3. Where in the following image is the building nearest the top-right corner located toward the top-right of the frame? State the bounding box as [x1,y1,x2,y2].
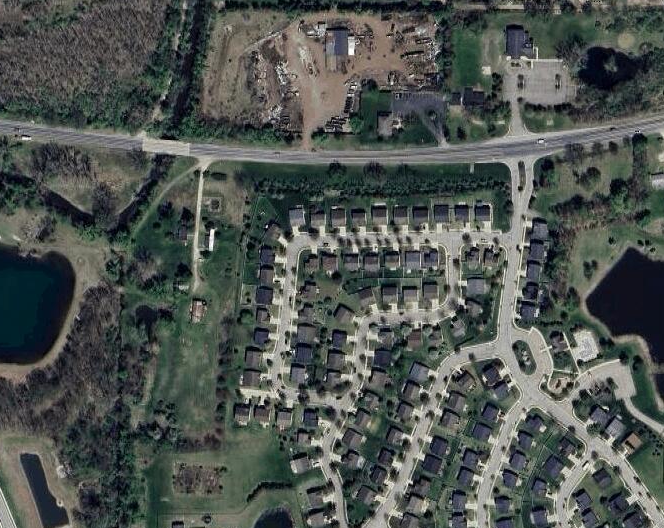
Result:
[506,27,533,61]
